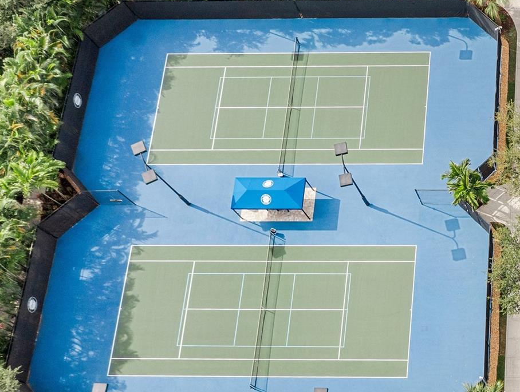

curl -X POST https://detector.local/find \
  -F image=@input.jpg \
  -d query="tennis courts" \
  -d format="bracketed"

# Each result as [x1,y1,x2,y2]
[147,51,431,165]
[108,246,416,377]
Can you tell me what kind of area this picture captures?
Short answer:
sports ground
